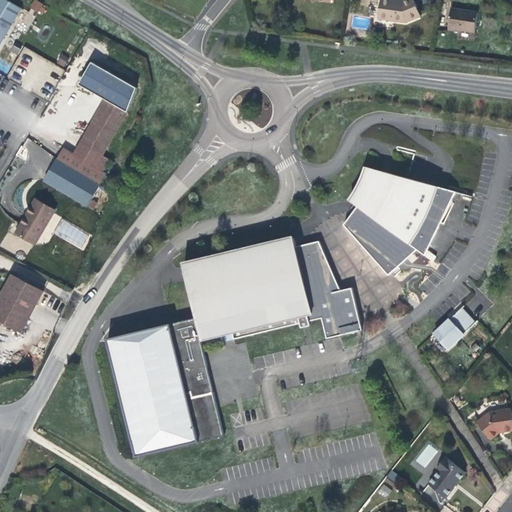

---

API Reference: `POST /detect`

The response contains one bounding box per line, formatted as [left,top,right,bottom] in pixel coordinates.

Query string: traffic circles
[205,67,309,152]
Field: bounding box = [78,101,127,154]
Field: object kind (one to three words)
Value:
barn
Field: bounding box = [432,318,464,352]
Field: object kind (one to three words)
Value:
house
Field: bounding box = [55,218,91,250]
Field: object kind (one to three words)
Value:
swimming pool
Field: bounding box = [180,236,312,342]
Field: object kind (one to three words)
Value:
building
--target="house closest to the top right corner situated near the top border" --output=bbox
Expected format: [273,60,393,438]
[446,2,480,34]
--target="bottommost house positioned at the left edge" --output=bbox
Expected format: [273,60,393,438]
[0,274,44,334]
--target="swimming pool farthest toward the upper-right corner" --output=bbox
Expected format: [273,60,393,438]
[352,16,370,30]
